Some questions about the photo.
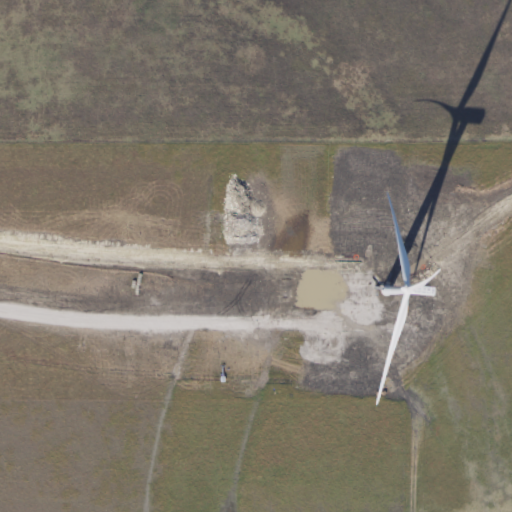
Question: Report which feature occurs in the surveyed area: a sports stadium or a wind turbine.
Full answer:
Of the two, only a wind turbine appears.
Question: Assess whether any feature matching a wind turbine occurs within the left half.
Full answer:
No, within the left half there is no wind turbine.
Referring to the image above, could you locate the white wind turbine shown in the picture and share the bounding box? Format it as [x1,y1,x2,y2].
[377,188,440,403]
